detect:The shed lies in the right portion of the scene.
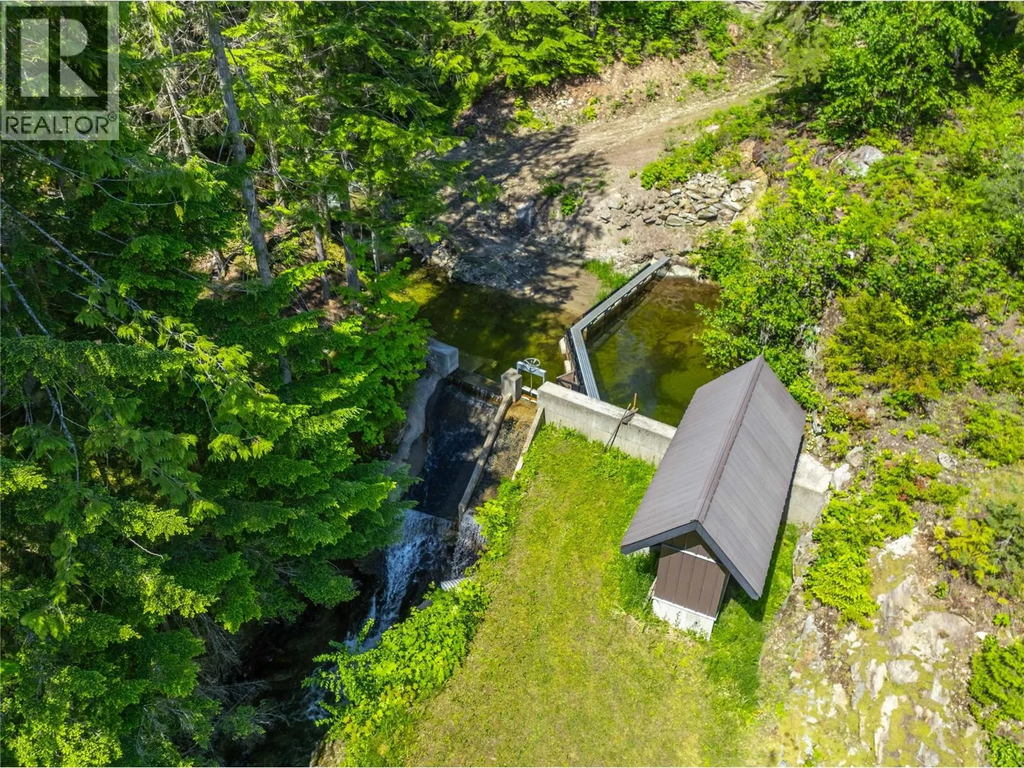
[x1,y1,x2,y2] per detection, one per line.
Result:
[619,352,807,638]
